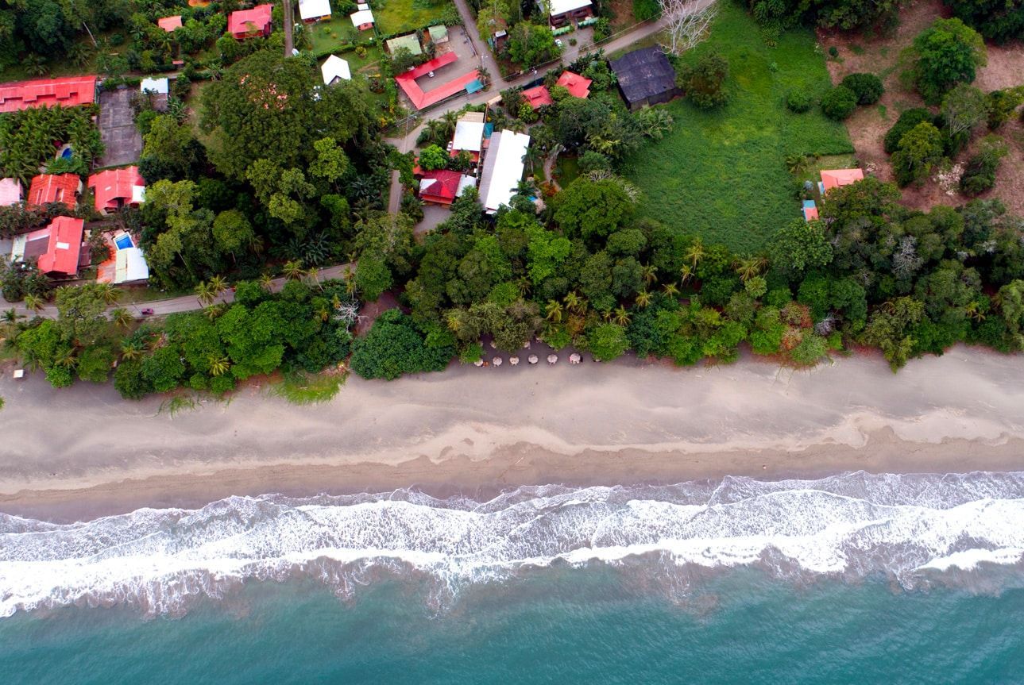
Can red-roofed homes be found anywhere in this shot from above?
Yes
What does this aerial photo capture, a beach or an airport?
beach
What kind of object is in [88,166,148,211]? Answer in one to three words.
house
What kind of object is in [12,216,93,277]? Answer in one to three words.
house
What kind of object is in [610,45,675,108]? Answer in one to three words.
barn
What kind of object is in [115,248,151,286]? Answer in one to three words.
shed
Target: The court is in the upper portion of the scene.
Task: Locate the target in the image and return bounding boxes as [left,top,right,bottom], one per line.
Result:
[95,87,142,167]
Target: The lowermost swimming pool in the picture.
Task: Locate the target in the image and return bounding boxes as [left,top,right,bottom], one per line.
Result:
[115,233,134,249]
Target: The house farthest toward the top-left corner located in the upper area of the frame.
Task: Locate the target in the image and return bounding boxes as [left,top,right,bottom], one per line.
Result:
[0,75,96,112]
